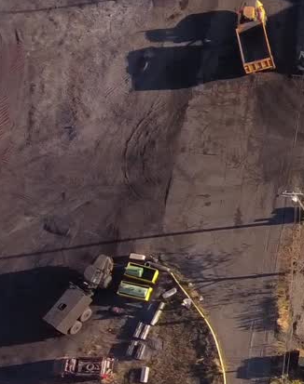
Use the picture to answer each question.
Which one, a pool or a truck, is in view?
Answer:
truck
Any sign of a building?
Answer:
No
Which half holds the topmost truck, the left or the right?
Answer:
right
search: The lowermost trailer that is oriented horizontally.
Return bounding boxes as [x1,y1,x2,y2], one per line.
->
[58,355,118,383]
